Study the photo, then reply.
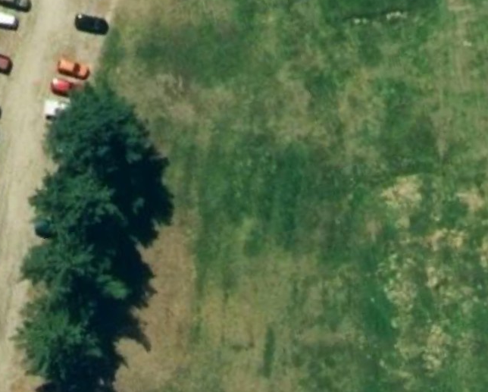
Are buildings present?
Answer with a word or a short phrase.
No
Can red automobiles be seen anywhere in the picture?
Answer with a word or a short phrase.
Yes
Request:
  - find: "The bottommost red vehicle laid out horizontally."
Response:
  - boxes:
[49,76,82,95]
